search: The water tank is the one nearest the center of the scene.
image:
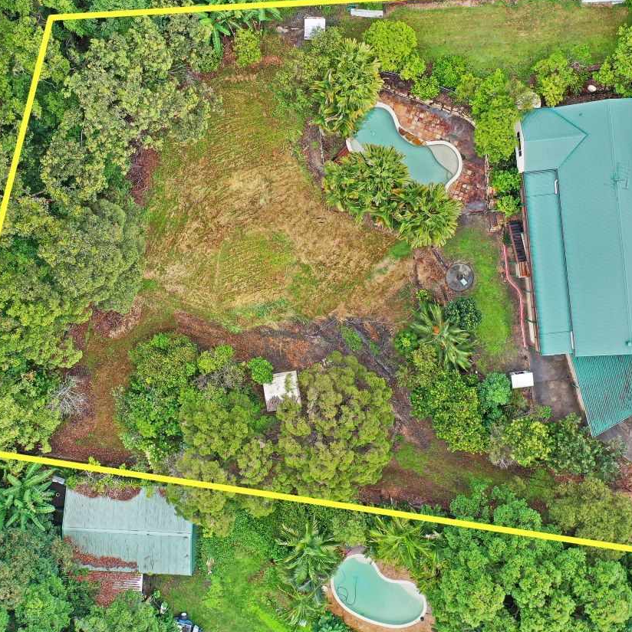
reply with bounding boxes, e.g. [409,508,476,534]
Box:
[445,263,474,290]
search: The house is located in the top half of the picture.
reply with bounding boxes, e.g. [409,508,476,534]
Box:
[508,97,632,355]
